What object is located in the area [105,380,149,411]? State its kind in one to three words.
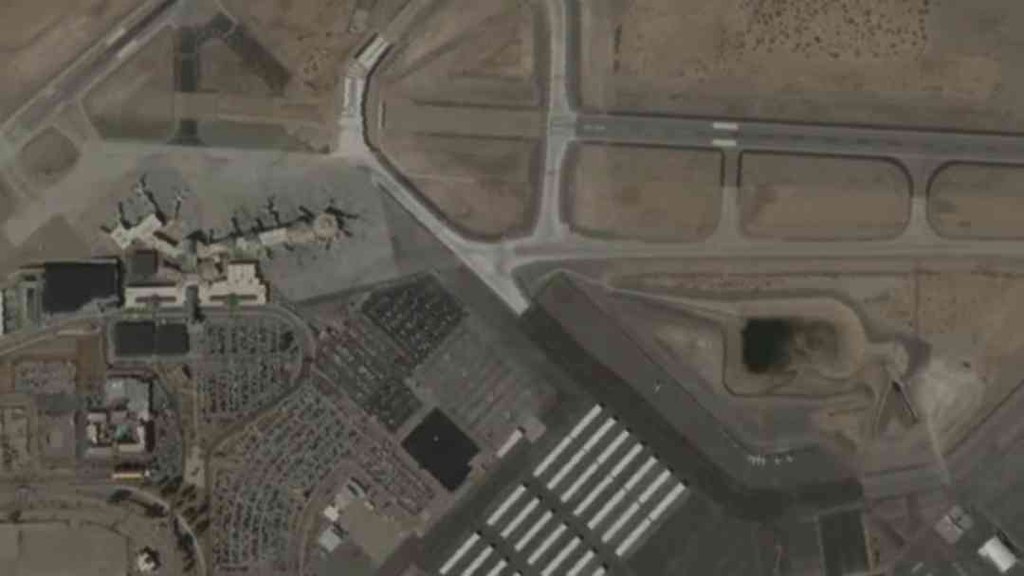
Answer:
building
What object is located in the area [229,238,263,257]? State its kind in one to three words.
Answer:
building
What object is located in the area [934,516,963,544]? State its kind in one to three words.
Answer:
hangar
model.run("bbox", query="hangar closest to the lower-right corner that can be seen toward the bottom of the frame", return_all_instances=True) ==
[979,537,1017,573]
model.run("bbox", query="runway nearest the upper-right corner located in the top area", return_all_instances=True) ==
[576,113,1024,165]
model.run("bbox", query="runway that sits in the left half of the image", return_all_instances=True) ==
[0,0,189,162]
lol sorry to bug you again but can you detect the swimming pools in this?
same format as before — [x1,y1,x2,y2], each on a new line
[114,424,131,439]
